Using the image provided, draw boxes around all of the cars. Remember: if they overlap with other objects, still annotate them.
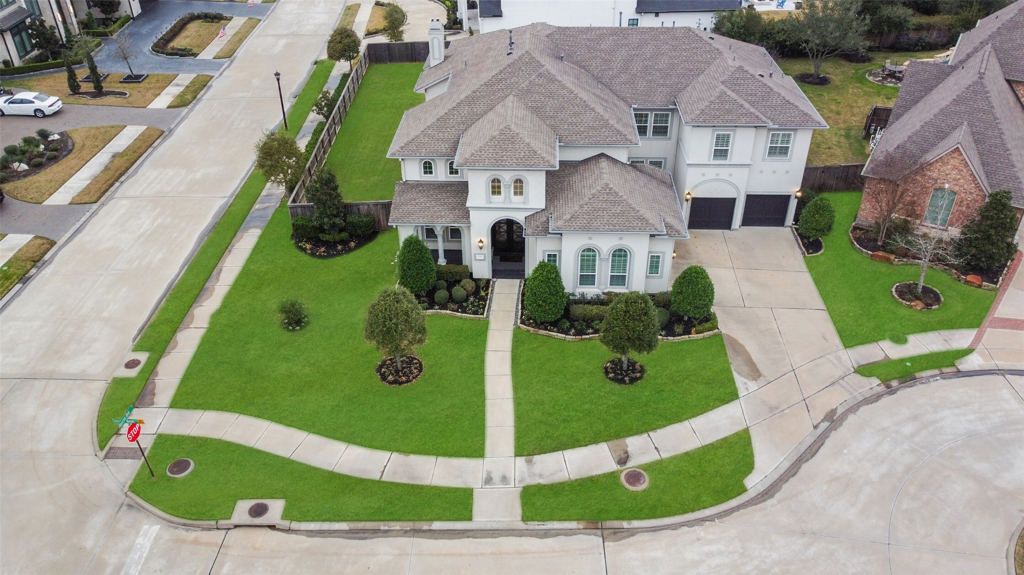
[0,89,63,116]
[0,183,5,197]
